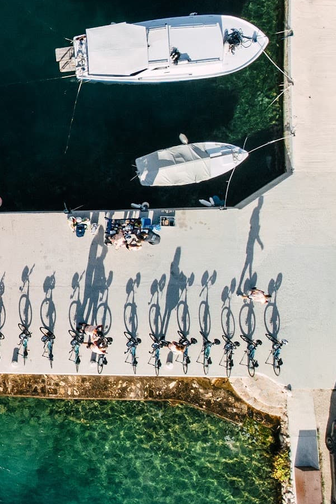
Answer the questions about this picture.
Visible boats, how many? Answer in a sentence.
The photo contains 2 boats.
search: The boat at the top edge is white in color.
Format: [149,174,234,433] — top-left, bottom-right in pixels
[54,14,271,83]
